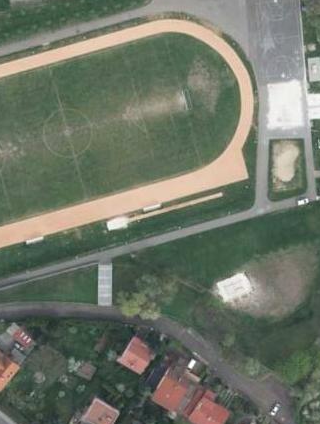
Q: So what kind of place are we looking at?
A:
sports ground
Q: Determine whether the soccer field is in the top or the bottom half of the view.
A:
top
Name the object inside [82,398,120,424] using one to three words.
house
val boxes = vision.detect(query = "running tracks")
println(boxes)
[0,19,254,250]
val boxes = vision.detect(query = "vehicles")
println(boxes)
[297,199,309,205]
[272,404,280,416]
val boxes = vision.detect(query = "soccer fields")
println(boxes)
[0,33,241,226]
